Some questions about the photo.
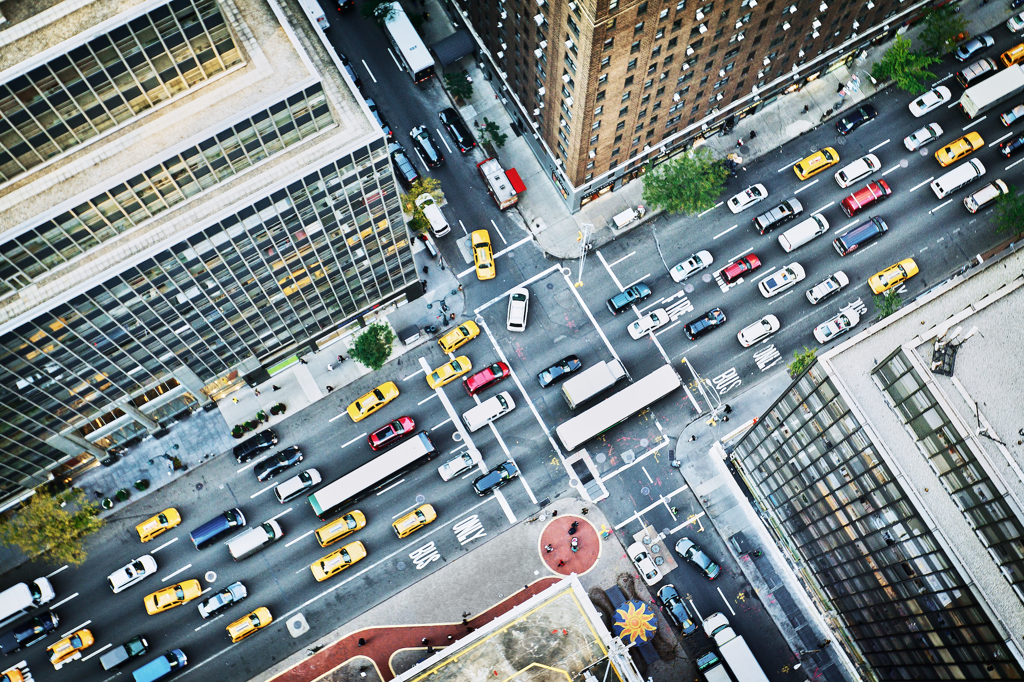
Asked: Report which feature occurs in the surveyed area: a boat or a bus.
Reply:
bus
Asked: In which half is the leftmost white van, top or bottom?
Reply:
bottom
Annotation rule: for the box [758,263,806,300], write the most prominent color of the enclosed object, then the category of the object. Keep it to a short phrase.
white car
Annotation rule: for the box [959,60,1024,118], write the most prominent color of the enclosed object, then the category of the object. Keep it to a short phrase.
white truck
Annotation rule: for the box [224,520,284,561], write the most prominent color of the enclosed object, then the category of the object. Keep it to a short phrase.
white van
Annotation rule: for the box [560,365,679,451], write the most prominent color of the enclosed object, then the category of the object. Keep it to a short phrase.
white bus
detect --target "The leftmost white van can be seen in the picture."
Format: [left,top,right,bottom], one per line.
[0,583,58,628]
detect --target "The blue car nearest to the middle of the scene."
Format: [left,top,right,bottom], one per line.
[538,355,582,388]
